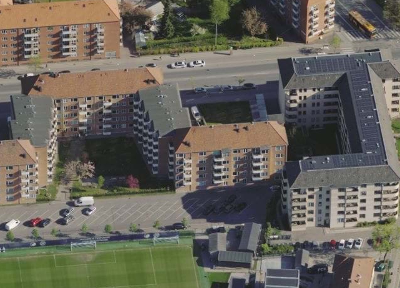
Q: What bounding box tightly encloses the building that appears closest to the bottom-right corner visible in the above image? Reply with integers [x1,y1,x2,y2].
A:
[329,252,374,288]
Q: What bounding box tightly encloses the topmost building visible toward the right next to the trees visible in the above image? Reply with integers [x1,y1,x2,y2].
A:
[251,0,336,41]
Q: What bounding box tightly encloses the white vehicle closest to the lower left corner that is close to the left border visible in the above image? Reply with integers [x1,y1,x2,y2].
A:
[5,218,20,232]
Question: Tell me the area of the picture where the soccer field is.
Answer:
bottom left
